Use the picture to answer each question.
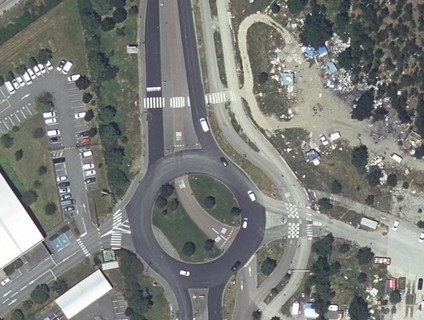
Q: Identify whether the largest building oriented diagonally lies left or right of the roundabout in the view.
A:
to the left of it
